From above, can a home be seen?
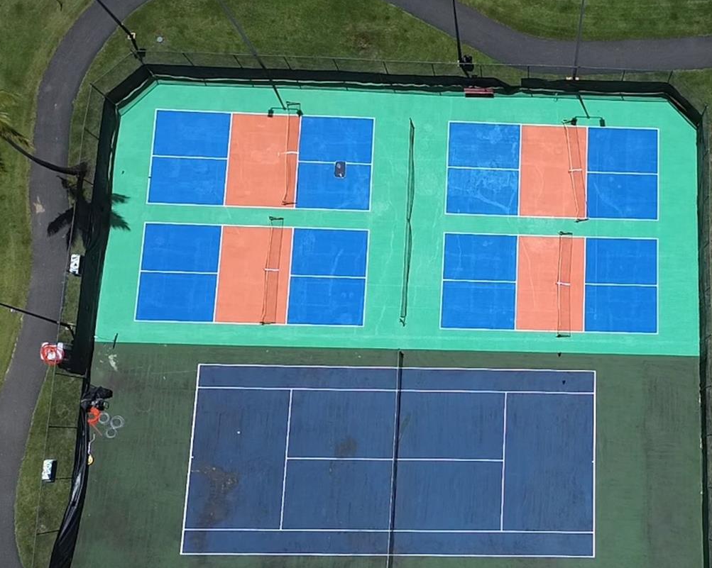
No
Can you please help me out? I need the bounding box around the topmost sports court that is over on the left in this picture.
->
[148,109,375,211]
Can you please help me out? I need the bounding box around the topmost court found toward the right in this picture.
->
[446,121,659,221]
